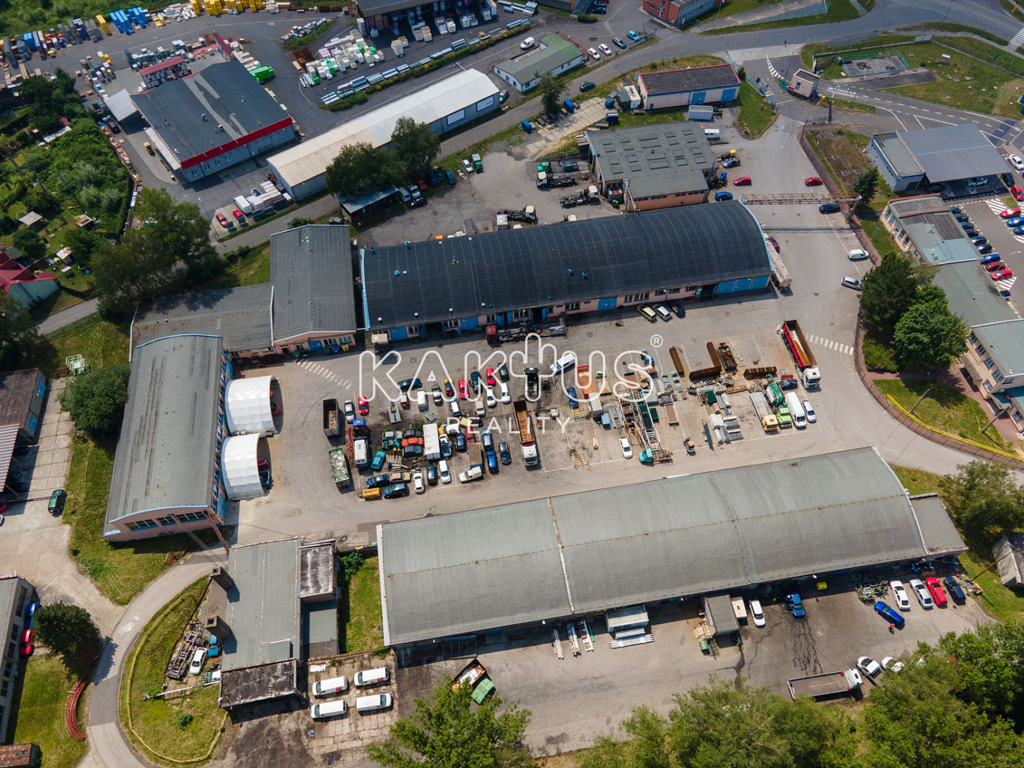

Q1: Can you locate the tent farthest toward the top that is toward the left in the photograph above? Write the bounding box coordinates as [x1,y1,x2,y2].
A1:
[225,381,280,438]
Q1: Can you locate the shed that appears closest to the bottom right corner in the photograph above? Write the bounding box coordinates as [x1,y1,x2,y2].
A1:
[977,541,1024,588]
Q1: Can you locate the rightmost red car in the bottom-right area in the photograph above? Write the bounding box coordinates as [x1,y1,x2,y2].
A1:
[924,578,948,608]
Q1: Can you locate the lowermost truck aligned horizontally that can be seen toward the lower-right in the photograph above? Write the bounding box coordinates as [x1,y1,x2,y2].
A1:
[785,664,870,699]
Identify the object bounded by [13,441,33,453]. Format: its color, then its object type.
black vehicle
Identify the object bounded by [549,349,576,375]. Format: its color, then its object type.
white vehicle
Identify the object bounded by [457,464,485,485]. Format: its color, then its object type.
white truck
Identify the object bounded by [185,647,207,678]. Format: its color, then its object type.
white car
